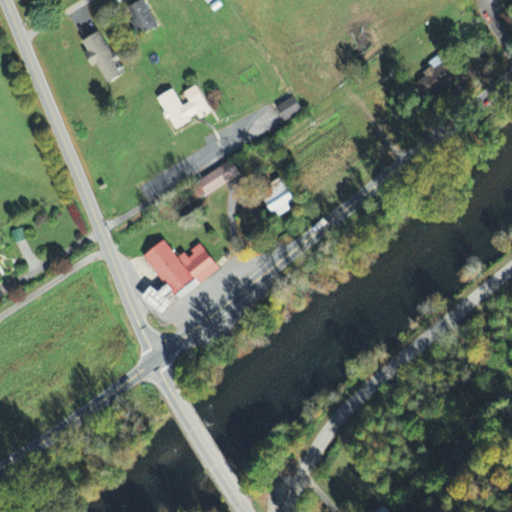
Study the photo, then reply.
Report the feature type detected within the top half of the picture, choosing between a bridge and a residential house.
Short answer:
residential house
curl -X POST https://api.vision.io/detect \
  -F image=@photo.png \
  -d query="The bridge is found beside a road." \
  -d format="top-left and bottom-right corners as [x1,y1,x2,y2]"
[163,387,252,512]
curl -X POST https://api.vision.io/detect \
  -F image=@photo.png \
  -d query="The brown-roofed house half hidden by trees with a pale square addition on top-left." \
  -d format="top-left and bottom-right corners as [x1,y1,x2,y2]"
[418,54,450,90]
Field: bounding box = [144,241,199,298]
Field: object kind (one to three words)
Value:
building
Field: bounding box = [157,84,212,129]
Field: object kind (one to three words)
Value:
house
